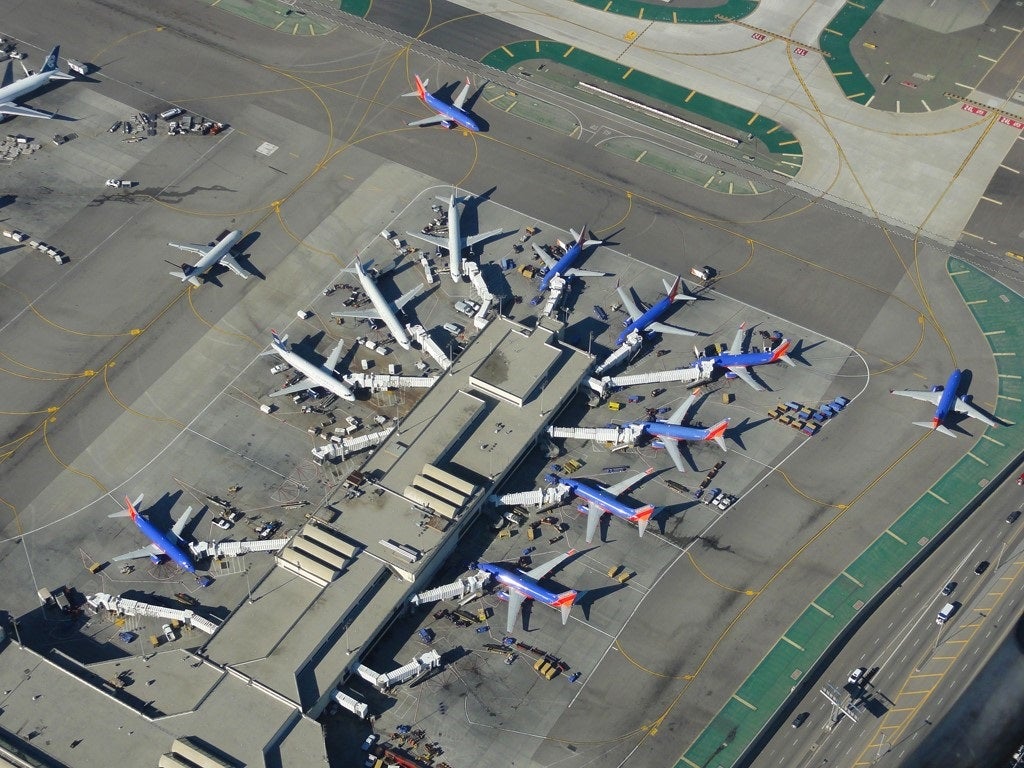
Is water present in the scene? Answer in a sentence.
No, there is no water in the image.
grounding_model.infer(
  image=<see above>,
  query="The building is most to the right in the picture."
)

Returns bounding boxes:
[196,315,596,725]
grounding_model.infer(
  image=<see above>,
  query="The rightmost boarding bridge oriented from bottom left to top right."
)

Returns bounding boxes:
[592,337,636,391]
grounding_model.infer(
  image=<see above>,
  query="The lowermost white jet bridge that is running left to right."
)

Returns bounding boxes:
[352,650,441,698]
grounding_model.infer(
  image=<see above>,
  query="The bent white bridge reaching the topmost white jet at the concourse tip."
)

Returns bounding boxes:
[463,261,491,341]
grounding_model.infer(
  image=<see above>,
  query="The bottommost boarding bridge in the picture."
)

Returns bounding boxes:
[329,687,374,727]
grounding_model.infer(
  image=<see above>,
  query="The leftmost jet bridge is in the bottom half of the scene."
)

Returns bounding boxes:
[87,598,218,636]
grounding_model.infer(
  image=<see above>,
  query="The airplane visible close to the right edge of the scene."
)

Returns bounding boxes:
[889,370,999,438]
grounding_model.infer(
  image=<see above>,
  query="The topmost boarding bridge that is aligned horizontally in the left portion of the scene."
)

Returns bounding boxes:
[350,375,438,403]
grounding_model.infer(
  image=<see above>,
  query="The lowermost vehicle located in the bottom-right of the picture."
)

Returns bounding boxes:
[791,713,806,730]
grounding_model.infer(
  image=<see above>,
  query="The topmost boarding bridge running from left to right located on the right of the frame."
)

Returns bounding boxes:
[594,363,710,403]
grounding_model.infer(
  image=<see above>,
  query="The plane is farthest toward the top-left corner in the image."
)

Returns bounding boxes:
[0,47,76,126]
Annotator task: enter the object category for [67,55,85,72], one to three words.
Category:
vehicle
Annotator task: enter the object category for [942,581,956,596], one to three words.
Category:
car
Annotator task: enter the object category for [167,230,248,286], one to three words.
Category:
airplane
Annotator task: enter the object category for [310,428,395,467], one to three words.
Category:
jet bridge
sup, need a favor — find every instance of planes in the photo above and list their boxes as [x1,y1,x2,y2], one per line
[889,370,999,438]
[167,230,248,286]
[0,47,76,126]
[478,548,589,634]
[691,321,796,390]
[531,223,605,295]
[559,467,666,544]
[616,275,702,346]
[406,194,502,284]
[258,330,356,402]
[402,74,480,132]
[108,493,196,574]
[331,251,424,351]
[622,387,731,472]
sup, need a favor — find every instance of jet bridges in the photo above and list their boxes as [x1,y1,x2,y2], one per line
[542,279,565,320]
[329,687,374,727]
[491,485,569,519]
[189,540,287,571]
[592,337,636,391]
[406,325,453,375]
[310,428,395,467]
[350,375,438,403]
[408,572,485,618]
[463,261,491,341]
[594,363,710,403]
[545,425,645,455]
[352,650,441,698]
[87,598,218,636]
